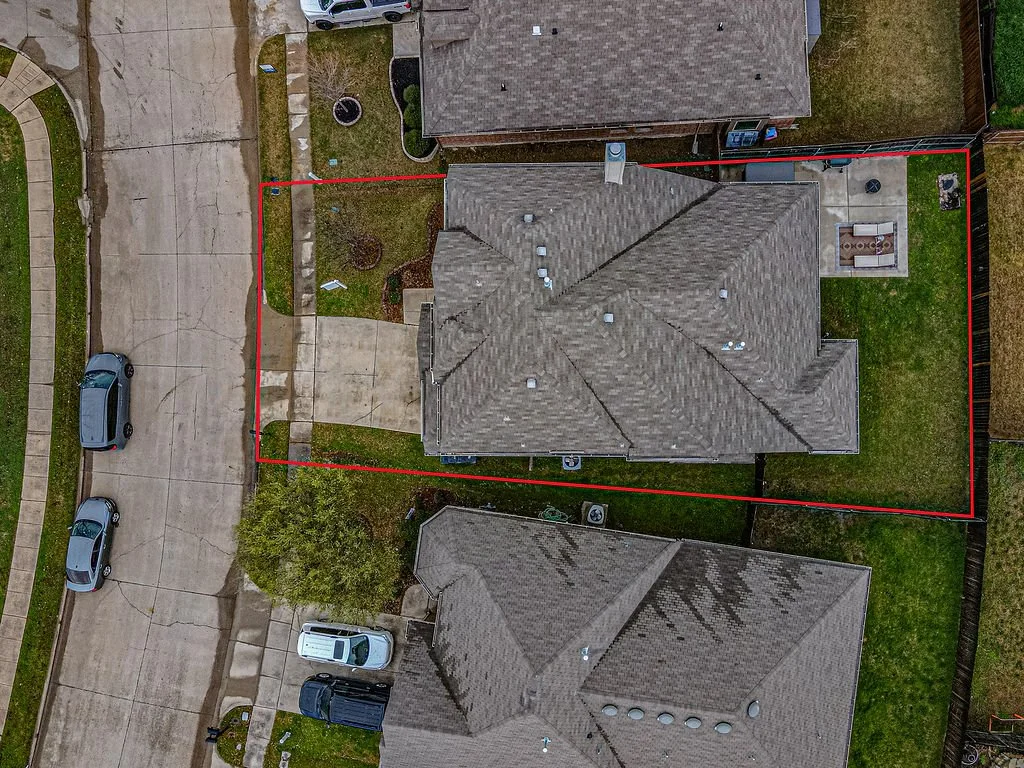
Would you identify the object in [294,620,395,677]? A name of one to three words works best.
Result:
car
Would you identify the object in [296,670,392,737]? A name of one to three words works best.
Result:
car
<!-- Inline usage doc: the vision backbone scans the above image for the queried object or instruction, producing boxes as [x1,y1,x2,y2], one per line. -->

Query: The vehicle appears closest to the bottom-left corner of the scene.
[64,493,122,591]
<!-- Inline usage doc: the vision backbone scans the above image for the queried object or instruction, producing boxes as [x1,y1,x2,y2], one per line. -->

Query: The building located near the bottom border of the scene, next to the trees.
[381,505,873,768]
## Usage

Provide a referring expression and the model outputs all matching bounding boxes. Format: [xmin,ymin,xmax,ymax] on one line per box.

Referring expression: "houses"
[420,0,812,148]
[381,505,873,768]
[417,141,861,464]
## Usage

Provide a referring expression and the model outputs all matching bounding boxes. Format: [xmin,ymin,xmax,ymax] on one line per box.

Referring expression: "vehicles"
[297,0,419,27]
[294,620,395,677]
[296,670,392,737]
[81,351,136,450]
[64,493,122,591]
